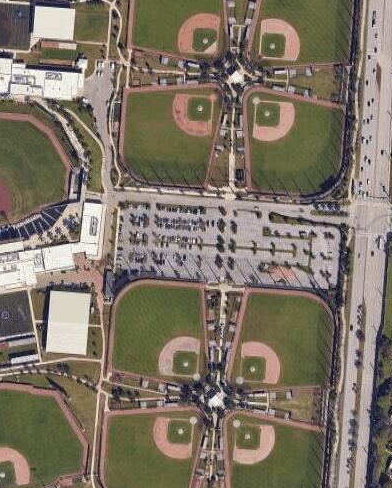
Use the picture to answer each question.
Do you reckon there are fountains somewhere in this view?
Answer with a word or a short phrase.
No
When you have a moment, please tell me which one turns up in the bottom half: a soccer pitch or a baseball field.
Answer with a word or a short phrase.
baseball field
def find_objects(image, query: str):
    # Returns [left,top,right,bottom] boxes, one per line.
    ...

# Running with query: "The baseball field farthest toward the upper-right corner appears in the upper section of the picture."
[247,0,354,67]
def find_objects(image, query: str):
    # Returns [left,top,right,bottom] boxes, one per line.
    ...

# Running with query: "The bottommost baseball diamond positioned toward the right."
[223,411,326,488]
